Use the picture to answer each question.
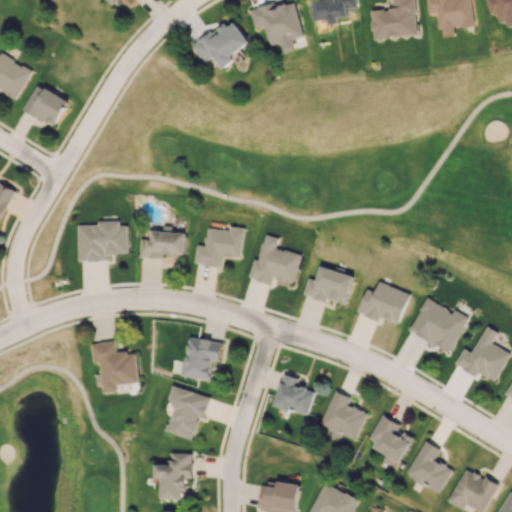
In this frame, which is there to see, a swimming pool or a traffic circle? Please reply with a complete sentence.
The one in the frame is a swimming pool.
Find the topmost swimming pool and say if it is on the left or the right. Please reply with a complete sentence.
The topmost swimming pool appears in the left half of the scene.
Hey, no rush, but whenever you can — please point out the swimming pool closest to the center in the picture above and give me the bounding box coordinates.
[134,196,187,232]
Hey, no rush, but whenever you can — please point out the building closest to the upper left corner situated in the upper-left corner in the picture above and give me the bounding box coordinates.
[0,49,32,99]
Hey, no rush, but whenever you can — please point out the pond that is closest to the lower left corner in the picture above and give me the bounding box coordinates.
[9,392,61,512]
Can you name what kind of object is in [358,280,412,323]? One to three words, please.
house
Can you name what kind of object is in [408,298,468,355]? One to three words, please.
house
